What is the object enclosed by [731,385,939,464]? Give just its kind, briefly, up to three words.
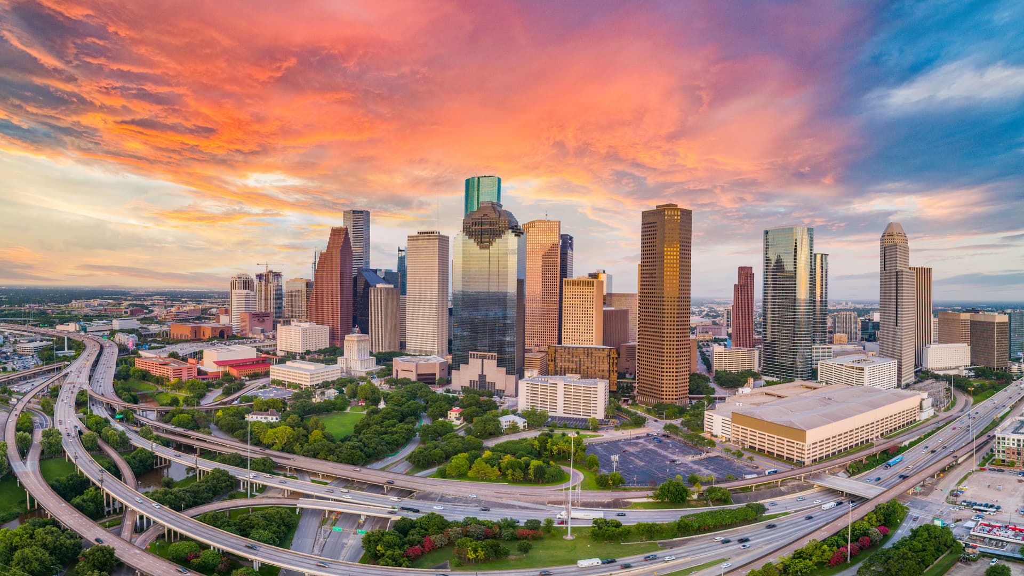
building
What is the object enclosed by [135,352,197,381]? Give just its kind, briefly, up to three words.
building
